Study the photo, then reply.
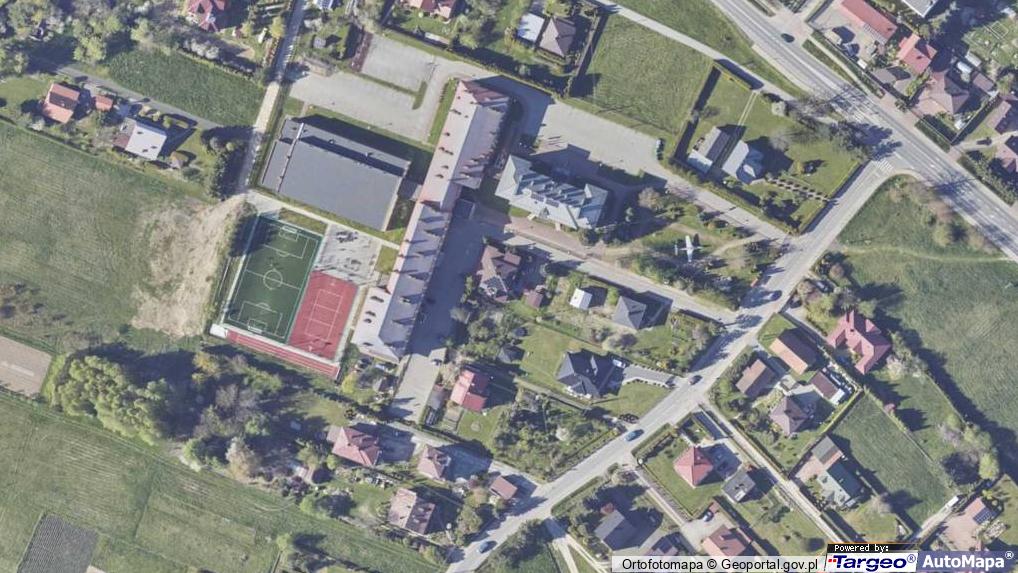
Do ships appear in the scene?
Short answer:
No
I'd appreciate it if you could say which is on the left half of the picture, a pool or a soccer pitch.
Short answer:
soccer pitch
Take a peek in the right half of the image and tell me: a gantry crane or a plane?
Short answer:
plane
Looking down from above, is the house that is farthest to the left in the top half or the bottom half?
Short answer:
top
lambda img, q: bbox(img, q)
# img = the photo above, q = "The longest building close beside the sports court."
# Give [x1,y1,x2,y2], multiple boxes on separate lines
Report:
[352,81,509,362]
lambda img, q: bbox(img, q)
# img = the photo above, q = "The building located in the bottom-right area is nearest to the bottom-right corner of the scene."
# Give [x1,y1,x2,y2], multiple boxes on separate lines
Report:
[969,497,998,525]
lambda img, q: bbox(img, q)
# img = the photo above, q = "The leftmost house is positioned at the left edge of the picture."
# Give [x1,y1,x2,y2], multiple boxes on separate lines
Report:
[43,83,80,123]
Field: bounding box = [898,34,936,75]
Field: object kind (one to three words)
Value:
house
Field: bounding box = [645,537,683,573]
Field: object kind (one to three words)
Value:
house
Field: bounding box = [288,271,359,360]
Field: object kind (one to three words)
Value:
sports court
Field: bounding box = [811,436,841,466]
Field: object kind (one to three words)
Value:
building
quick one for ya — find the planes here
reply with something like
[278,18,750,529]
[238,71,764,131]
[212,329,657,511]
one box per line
[676,236,703,262]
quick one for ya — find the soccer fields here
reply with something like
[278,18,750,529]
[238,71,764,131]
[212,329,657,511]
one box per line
[223,215,323,343]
